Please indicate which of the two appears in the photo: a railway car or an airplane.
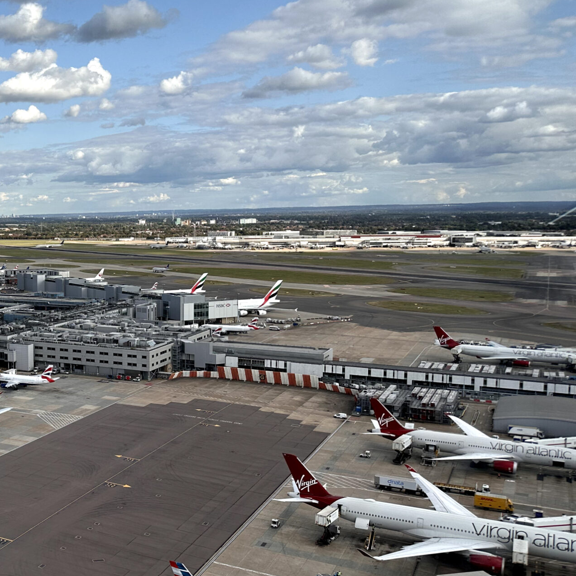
airplane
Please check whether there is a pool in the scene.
No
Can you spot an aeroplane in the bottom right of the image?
Yes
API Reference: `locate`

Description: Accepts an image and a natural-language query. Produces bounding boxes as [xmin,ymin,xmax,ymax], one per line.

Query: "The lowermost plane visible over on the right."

[286,456,576,571]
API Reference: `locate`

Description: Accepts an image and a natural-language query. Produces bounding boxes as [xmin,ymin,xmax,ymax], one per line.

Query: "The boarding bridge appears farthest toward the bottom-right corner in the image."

[505,511,576,533]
